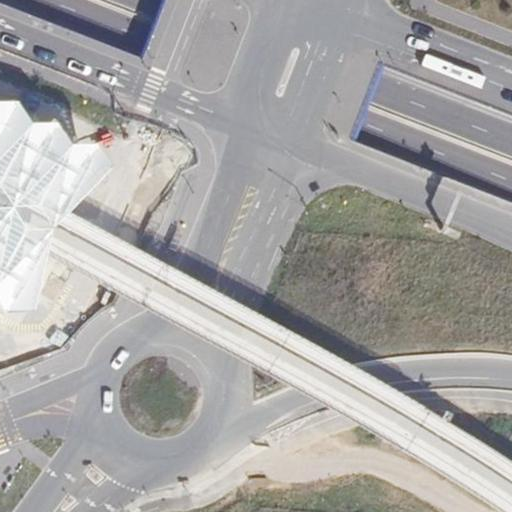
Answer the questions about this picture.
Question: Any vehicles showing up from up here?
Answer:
Yes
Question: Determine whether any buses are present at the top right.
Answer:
Yes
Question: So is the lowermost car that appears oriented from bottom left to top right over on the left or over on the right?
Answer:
left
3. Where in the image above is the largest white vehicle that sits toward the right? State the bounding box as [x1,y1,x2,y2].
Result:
[421,52,485,88]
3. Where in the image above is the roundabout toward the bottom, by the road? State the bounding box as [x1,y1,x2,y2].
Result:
[87,324,233,470]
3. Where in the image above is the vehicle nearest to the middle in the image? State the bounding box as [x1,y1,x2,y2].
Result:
[162,220,177,243]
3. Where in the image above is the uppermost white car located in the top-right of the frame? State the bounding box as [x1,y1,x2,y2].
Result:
[407,36,430,51]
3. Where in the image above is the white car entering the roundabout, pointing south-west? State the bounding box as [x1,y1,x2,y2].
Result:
[110,348,130,370]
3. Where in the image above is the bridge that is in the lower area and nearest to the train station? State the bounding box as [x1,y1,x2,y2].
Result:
[50,211,512,512]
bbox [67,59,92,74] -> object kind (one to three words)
car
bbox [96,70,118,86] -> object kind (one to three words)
car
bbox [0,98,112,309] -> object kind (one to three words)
train station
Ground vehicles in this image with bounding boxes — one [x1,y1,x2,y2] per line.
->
[162,220,177,243]
[102,390,113,413]
[110,348,130,370]
[96,70,118,86]
[411,22,435,37]
[32,46,56,62]
[0,34,24,50]
[67,59,92,74]
[407,36,430,51]
[421,52,485,88]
